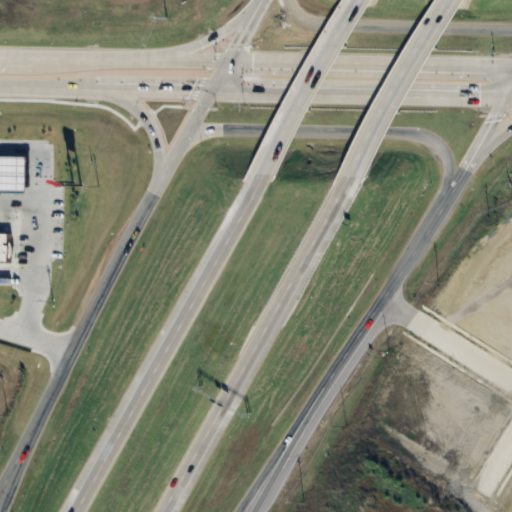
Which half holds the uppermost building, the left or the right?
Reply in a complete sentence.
The uppermost building appears in the left half of the scene.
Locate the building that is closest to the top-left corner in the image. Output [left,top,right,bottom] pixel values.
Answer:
[0,156,30,192]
